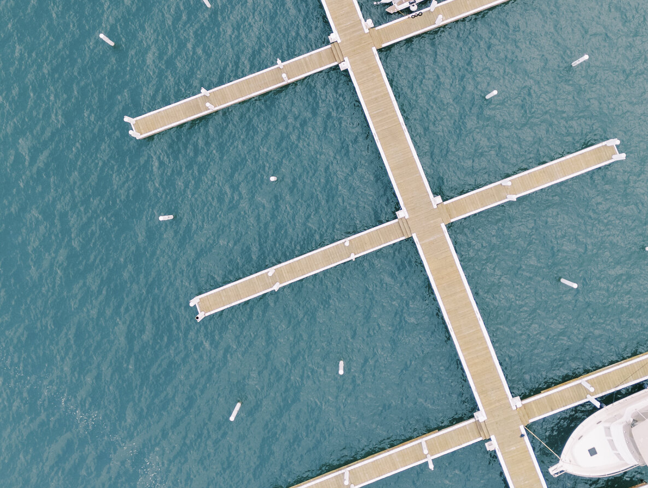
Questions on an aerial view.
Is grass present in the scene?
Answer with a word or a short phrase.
No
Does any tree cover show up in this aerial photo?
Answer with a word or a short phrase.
No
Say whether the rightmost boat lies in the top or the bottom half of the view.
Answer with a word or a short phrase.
bottom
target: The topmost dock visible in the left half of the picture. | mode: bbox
[131,42,344,138]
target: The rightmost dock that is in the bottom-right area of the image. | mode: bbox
[516,350,648,425]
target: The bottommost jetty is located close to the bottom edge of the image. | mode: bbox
[287,417,489,488]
